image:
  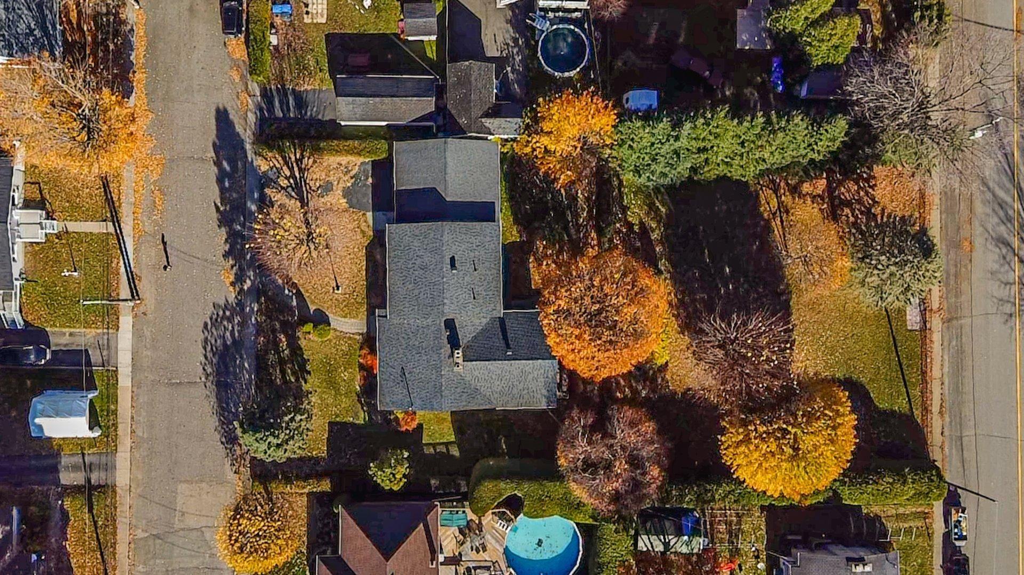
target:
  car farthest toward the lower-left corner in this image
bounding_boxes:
[0,343,51,366]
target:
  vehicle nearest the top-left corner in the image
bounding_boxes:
[220,0,245,36]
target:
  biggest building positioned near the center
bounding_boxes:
[376,136,576,416]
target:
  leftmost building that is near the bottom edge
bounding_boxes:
[316,495,440,575]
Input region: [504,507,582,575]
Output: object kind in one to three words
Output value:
swimming pool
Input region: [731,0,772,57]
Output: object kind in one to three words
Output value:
shed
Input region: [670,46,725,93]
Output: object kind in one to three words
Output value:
truck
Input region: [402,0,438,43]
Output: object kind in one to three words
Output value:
shed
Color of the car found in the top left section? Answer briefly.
black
